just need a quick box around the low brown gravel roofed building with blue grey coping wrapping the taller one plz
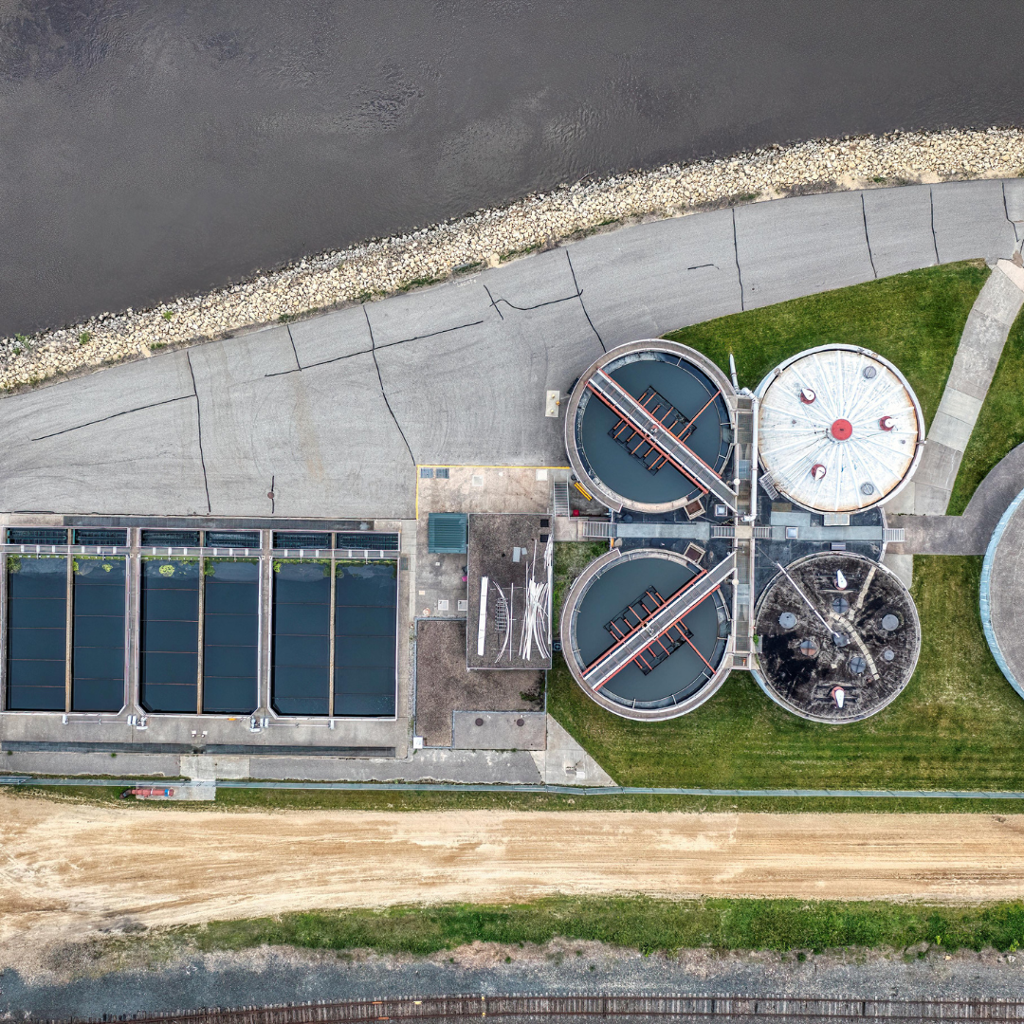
[414,619,548,751]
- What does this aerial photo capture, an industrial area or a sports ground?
industrial area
